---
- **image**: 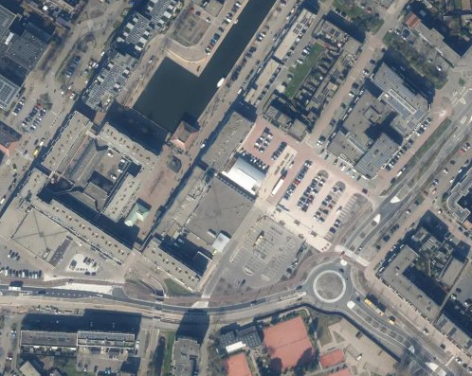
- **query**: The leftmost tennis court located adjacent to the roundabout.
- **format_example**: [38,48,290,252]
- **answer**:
[263,316,317,372]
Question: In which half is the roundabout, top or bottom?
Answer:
bottom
